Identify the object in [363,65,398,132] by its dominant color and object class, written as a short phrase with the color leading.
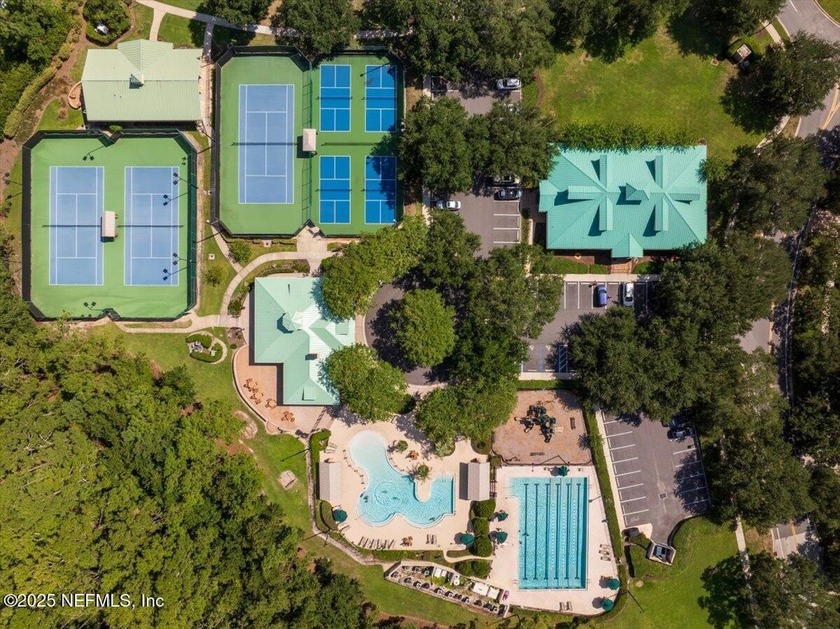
blue sports court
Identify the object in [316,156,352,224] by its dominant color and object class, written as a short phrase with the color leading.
blue sports court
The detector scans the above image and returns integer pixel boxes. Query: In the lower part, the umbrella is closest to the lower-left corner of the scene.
[332,507,348,522]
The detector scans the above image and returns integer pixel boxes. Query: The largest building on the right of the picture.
[538,145,707,258]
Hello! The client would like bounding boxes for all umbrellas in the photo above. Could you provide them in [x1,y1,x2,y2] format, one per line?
[599,595,614,611]
[332,507,348,522]
[495,508,509,521]
[605,576,620,590]
[459,531,474,546]
[493,529,508,545]
[555,463,569,477]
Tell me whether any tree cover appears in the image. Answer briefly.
Yes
